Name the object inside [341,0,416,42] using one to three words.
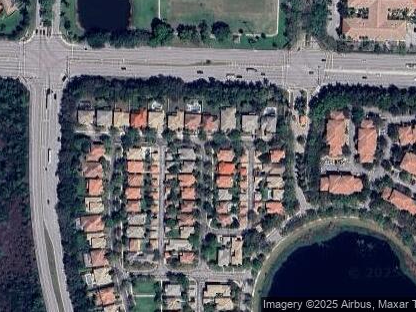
building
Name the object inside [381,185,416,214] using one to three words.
building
